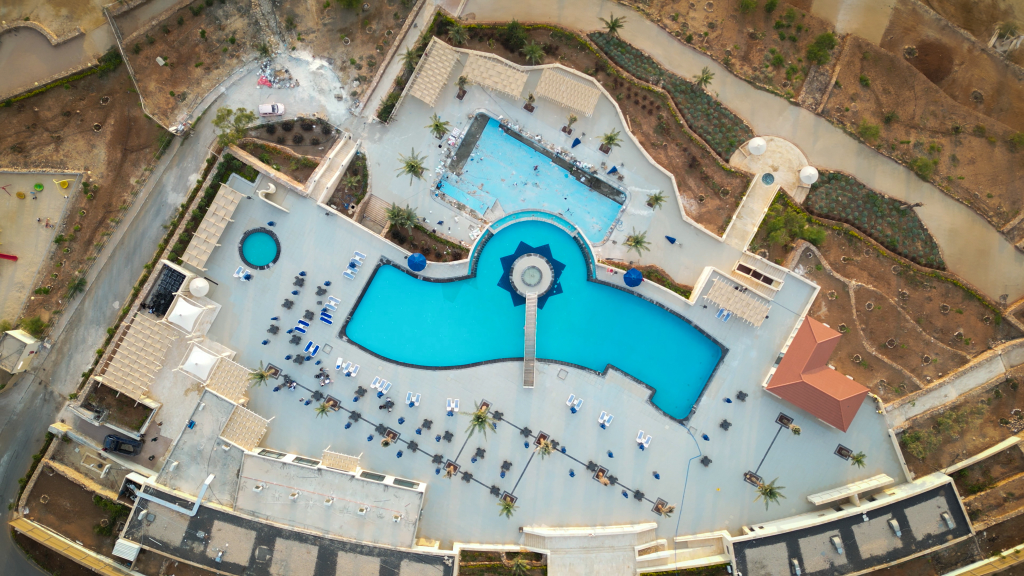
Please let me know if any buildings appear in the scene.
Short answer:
Yes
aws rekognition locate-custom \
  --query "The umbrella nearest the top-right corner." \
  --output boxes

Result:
[798,166,819,184]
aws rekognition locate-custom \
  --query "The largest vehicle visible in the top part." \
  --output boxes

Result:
[257,101,284,116]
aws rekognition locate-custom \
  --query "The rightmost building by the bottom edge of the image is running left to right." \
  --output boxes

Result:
[724,468,974,576]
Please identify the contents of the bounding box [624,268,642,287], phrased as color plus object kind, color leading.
blue umbrella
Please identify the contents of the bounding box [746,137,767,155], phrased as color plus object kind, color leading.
white umbrella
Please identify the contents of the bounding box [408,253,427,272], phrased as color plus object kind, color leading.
blue umbrella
